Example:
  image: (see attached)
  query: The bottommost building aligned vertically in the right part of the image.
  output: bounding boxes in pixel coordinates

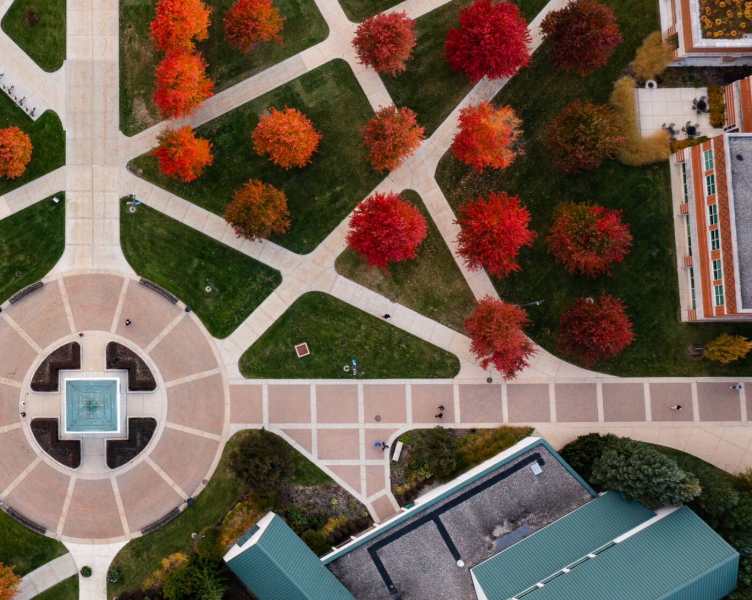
[670,129,752,321]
